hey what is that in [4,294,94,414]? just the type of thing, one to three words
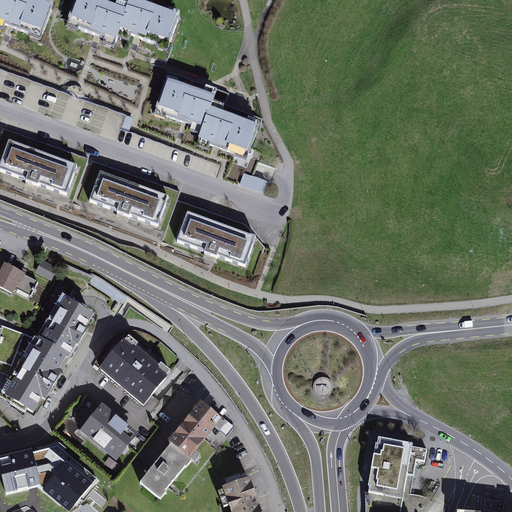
building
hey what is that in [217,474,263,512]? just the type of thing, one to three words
house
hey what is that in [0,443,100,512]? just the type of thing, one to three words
house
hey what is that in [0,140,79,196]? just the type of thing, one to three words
building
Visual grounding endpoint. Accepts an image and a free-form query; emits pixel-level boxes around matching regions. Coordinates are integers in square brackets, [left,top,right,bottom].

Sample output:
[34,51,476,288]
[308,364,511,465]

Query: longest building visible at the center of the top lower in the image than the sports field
[153,76,262,171]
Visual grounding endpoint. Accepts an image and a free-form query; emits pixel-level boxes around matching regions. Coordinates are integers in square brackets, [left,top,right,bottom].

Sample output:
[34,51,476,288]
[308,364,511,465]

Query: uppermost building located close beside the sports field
[67,0,181,54]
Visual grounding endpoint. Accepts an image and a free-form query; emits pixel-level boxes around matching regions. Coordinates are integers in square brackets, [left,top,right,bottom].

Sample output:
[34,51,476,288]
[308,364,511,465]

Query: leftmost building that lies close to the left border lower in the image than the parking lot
[0,262,38,296]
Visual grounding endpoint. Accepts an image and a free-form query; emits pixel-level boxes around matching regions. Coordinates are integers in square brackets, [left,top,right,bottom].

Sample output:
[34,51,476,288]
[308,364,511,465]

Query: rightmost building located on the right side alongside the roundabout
[368,436,427,501]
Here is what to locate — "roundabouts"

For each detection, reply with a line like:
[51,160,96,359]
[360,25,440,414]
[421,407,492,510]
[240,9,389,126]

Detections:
[272,310,380,430]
